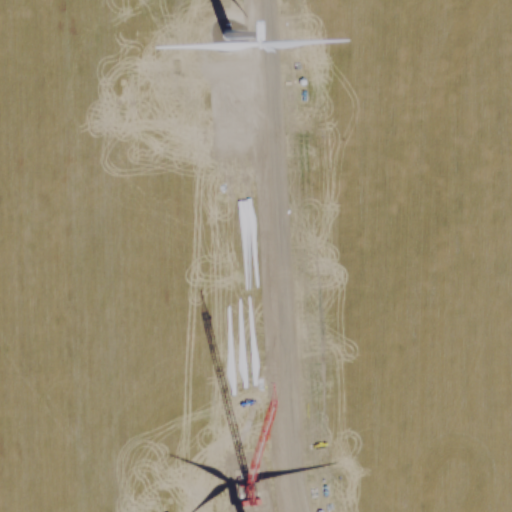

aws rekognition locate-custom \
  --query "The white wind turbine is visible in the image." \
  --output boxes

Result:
[158,18,348,51]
